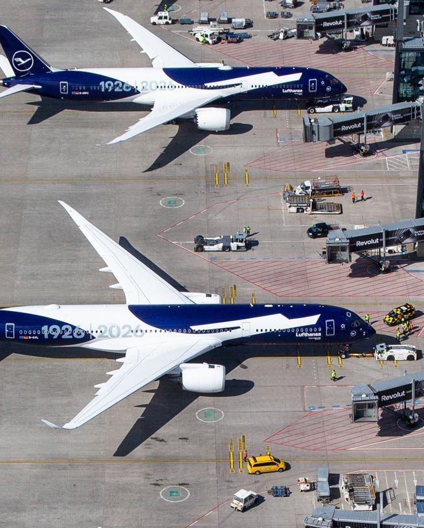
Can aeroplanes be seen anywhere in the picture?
Yes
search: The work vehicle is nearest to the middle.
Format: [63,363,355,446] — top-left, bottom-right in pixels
[197,233,248,252]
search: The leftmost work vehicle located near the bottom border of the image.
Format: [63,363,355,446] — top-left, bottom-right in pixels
[230,487,257,510]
